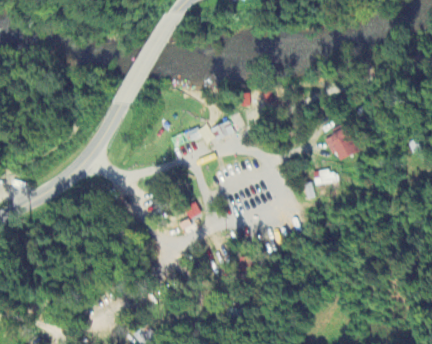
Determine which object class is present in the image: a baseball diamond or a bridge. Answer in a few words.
bridge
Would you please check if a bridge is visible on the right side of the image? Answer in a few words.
No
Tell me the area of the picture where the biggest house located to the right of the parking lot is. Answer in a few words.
right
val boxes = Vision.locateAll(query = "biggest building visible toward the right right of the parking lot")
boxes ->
[325,126,358,161]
